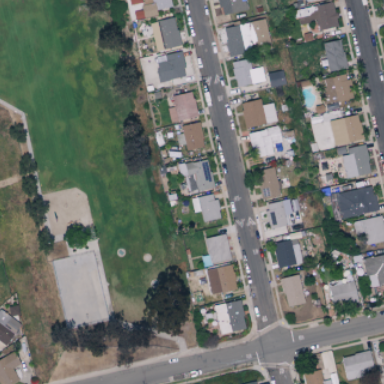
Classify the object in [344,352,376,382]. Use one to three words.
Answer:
house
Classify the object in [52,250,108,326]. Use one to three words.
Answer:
sports court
